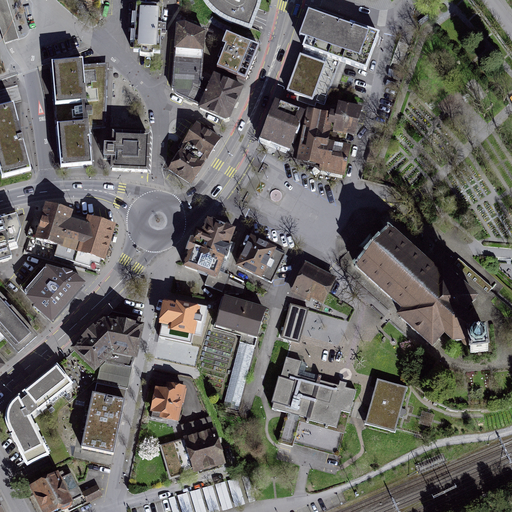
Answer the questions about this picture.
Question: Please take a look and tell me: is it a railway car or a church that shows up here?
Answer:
church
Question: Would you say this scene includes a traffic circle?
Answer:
Yes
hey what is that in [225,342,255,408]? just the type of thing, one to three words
shed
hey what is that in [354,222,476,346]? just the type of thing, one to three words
church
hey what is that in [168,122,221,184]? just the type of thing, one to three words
house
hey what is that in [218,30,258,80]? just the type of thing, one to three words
building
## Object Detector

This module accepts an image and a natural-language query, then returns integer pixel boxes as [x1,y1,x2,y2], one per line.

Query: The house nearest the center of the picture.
[236,234,284,284]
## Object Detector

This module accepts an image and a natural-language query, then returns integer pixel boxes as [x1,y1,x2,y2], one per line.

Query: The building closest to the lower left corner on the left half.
[30,470,86,512]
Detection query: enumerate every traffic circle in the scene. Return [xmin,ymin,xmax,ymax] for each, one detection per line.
[126,190,188,253]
